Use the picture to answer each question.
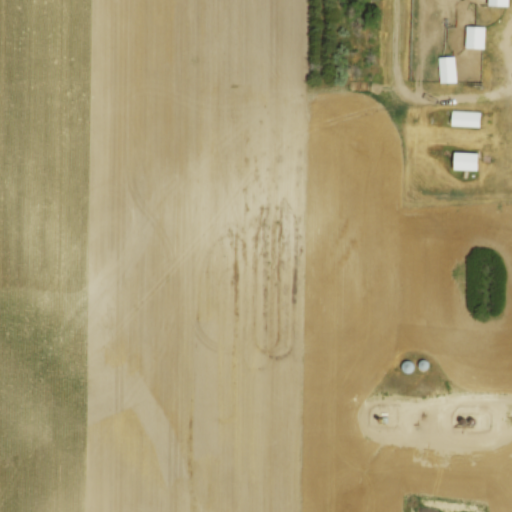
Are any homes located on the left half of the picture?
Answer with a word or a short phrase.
No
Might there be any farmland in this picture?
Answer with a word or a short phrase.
Yes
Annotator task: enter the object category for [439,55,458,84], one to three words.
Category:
barn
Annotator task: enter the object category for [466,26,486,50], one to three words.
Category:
barn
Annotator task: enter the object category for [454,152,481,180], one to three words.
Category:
house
